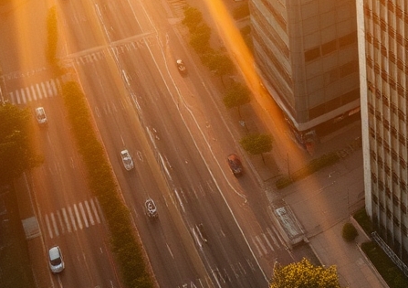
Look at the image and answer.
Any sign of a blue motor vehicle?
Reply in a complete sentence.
No, no blue motor vehicle can be seen from above.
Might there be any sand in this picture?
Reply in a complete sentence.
No, the scene doesn't show any sand.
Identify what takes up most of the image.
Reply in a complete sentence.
The bulk of the photo consists of paved ground.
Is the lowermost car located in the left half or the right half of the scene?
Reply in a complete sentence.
The lowermost car appears in the left half of the scene.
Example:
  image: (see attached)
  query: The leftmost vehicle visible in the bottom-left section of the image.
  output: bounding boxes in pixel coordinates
[46,242,66,270]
